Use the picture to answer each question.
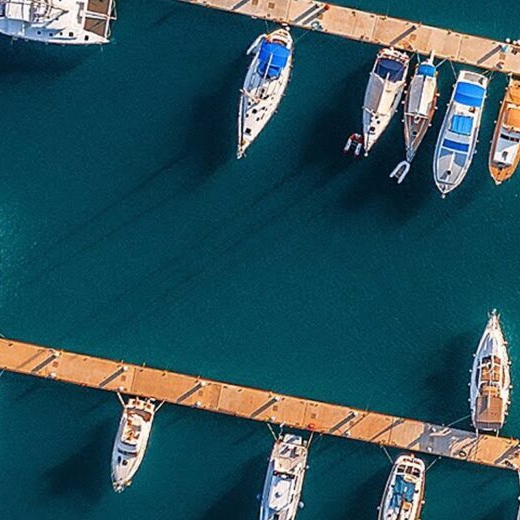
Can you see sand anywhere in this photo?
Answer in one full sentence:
No, there's no sand in this view.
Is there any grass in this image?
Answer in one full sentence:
No, there's no grass in this view.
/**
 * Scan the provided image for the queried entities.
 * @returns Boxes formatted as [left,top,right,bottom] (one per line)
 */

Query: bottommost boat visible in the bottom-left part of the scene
[110,393,163,496]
